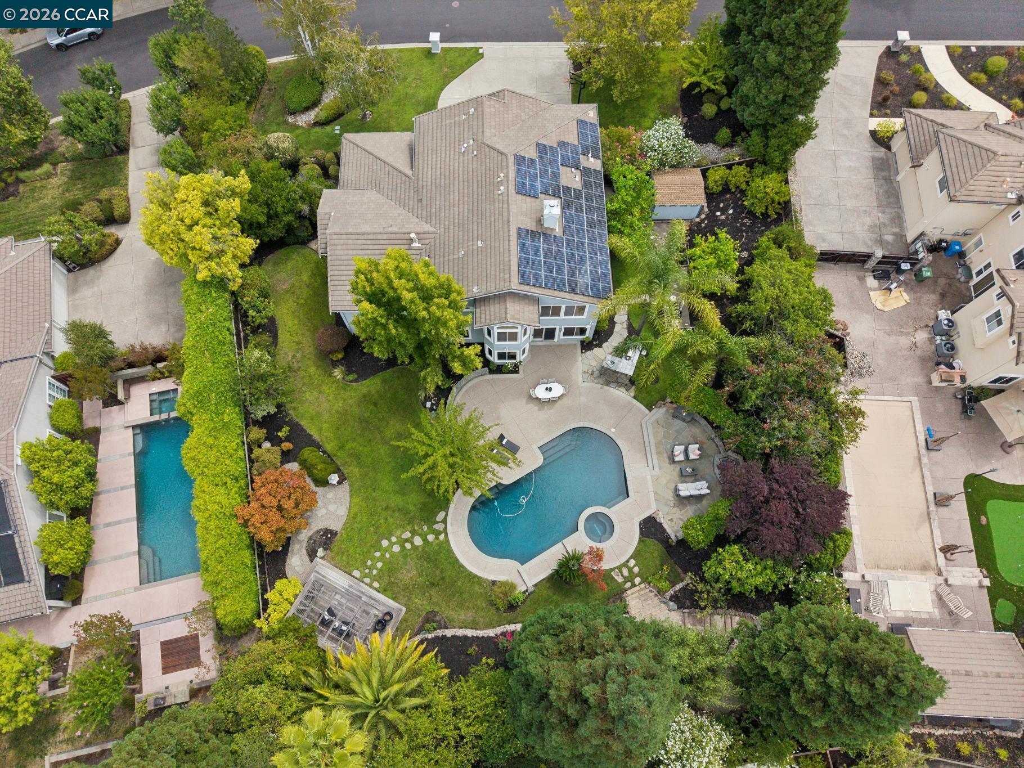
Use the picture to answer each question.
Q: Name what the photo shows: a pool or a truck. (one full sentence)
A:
It is a pool that can be seen here.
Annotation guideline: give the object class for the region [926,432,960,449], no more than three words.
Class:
umbrella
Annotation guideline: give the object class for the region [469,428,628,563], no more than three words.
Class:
swimming pool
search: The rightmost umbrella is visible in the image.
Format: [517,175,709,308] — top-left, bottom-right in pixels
[980,372,1024,454]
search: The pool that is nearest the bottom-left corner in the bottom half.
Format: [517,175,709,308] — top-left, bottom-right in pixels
[133,415,203,584]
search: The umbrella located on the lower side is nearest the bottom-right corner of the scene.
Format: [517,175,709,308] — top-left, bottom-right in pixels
[938,542,970,562]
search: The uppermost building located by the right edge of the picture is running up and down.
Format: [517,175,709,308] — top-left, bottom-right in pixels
[889,108,1024,388]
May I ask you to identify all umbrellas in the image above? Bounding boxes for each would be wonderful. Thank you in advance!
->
[932,491,967,505]
[938,542,970,562]
[980,372,1024,454]
[926,432,960,449]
